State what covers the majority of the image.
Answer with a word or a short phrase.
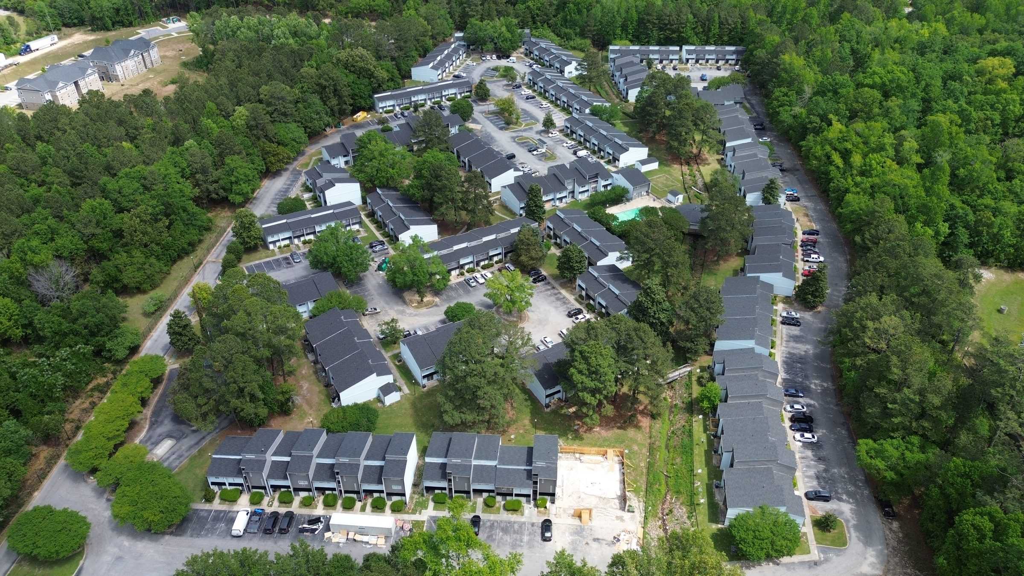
trees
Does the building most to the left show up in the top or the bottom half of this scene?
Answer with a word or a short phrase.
top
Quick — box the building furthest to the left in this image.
[21,67,104,112]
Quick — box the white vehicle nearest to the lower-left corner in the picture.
[230,509,251,536]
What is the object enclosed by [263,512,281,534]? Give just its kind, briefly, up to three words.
car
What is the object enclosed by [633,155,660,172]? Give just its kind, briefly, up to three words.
shed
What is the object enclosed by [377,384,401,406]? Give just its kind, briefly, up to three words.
shed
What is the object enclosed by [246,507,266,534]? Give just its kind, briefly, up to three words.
vehicle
